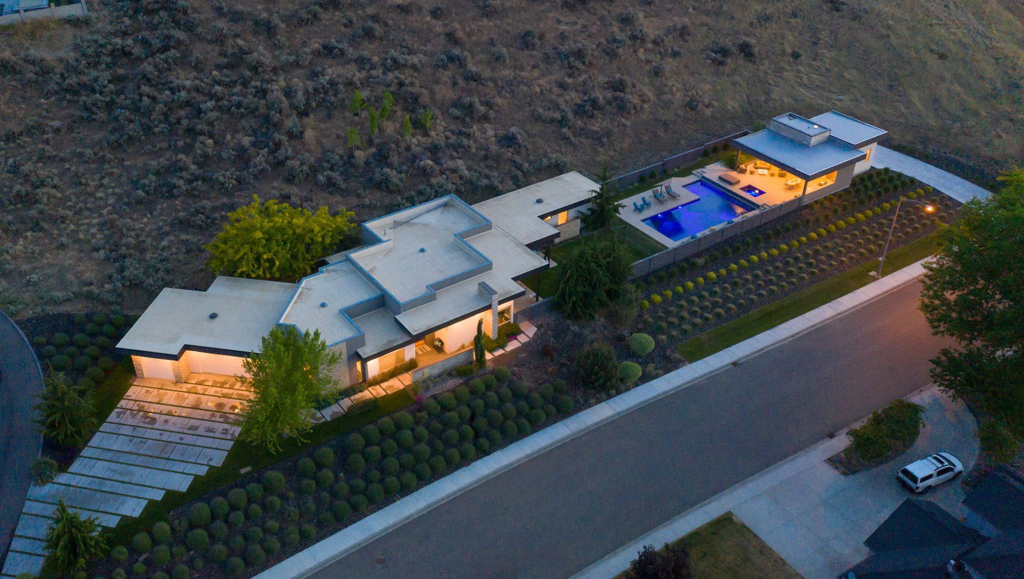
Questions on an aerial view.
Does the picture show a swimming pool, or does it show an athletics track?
swimming pool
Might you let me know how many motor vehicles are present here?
1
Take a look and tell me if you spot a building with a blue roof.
Yes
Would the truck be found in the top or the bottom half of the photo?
bottom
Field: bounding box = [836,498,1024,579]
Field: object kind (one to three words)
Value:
house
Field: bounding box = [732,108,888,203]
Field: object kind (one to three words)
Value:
building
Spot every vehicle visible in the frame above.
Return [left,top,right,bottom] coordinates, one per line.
[897,453,964,493]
